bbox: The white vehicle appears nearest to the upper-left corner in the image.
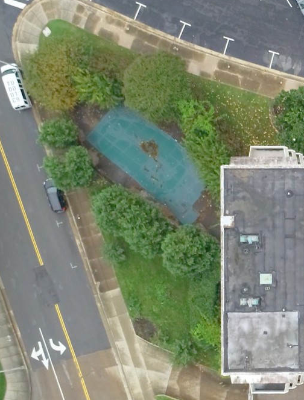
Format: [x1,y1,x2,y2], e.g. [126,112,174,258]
[0,64,31,112]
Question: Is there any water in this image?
No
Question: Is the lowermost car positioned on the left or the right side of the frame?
left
